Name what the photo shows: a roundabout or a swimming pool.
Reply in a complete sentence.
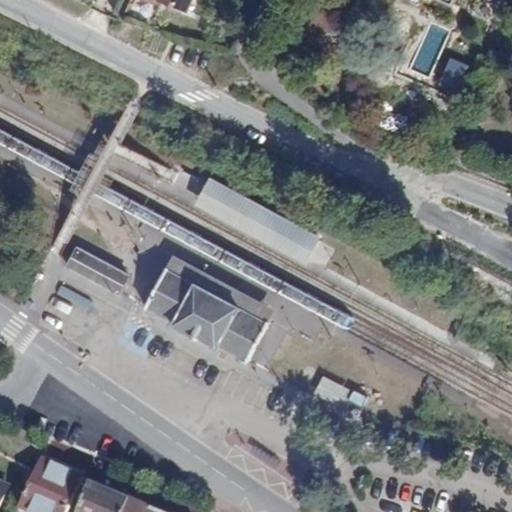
Of the two, only a swimming pool appears.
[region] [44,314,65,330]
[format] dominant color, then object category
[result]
white car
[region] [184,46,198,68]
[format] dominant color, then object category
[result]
gray car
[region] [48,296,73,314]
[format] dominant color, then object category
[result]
white vehicle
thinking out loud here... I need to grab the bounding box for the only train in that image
[0,130,354,328]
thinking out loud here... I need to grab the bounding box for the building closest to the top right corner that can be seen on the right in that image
[440,58,469,83]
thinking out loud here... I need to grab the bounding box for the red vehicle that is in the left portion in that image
[98,430,113,451]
